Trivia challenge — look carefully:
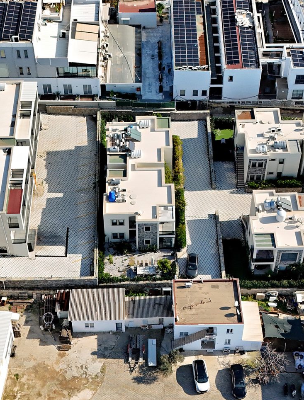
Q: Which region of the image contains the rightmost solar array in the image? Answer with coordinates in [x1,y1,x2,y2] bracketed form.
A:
[291,50,304,67]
